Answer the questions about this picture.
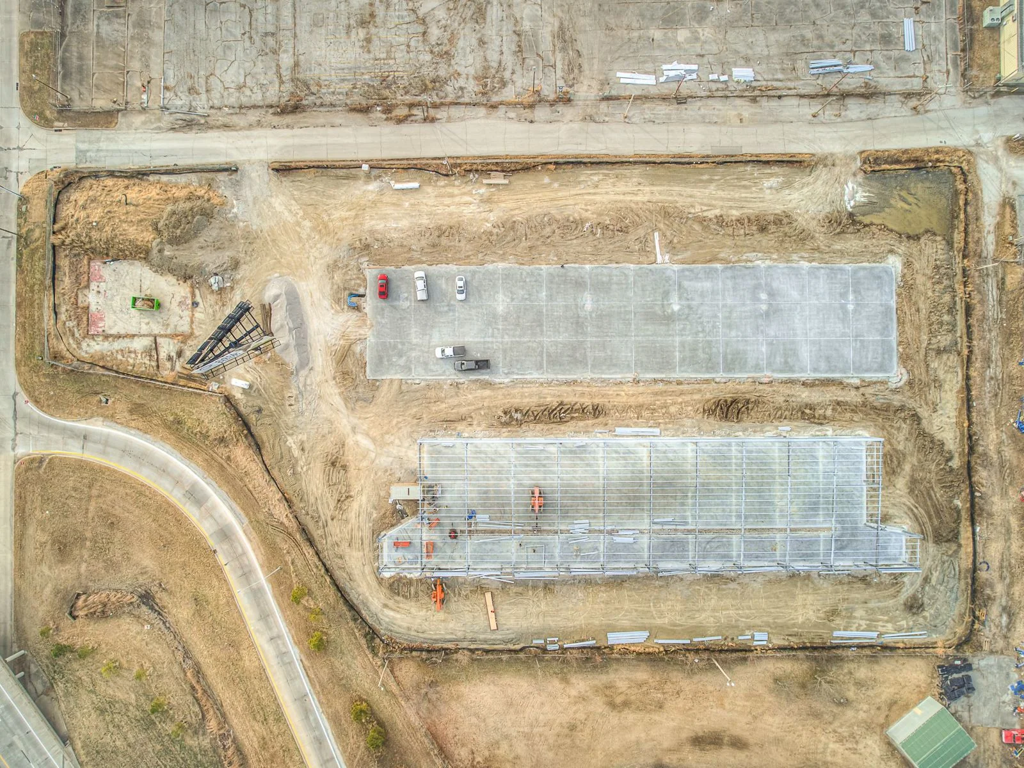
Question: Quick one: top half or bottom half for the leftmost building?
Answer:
bottom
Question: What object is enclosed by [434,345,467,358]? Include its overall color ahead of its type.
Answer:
white vehicle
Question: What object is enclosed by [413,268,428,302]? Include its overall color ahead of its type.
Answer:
white vehicle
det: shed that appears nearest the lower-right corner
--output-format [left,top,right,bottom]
[887,696,977,768]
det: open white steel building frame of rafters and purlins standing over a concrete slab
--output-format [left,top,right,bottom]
[379,436,924,571]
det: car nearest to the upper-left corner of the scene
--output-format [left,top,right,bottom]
[374,274,387,300]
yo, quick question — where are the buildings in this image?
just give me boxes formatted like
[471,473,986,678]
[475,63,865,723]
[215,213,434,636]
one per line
[999,0,1024,85]
[887,696,977,768]
[379,436,924,571]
